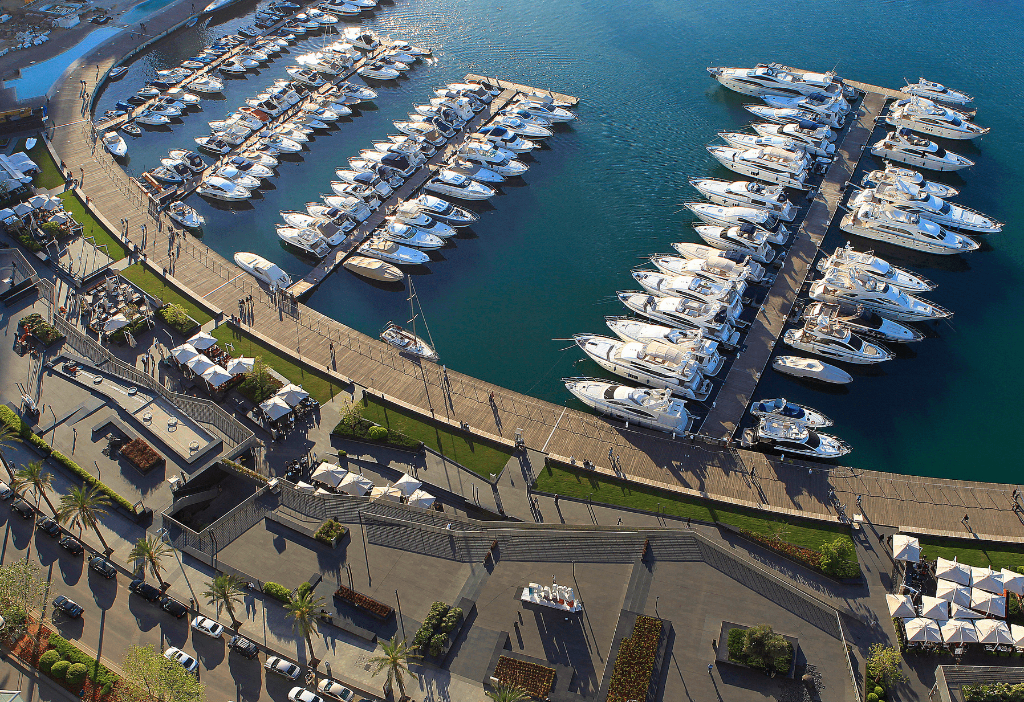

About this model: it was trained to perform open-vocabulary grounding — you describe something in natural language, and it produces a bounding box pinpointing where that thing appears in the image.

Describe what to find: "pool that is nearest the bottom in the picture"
[4,26,122,99]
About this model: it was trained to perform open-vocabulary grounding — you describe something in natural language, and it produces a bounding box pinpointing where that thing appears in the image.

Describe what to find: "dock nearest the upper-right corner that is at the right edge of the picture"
[699,58,990,441]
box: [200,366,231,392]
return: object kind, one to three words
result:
umbrella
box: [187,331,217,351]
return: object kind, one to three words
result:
umbrella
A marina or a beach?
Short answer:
marina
